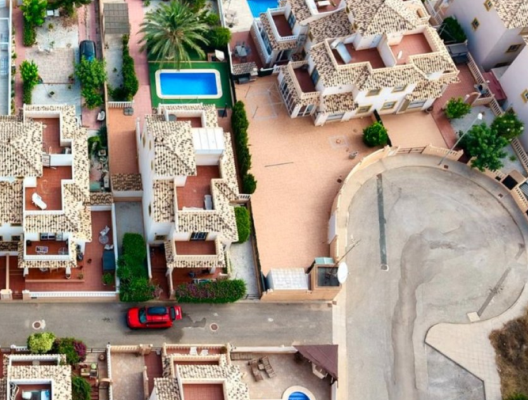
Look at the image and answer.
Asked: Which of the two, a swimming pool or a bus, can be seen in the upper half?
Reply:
swimming pool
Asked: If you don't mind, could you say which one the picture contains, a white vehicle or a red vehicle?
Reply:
red vehicle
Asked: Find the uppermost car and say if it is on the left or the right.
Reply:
left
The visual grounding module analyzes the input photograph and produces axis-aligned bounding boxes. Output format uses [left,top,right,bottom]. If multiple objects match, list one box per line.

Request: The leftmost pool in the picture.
[157,68,223,100]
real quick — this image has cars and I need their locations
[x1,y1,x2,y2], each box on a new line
[123,304,189,335]
[77,40,98,63]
